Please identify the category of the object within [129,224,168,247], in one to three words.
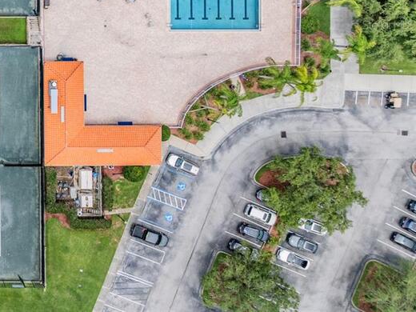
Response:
truck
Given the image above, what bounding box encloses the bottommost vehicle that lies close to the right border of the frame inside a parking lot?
[385,231,416,254]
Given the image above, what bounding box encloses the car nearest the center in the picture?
[165,152,200,176]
